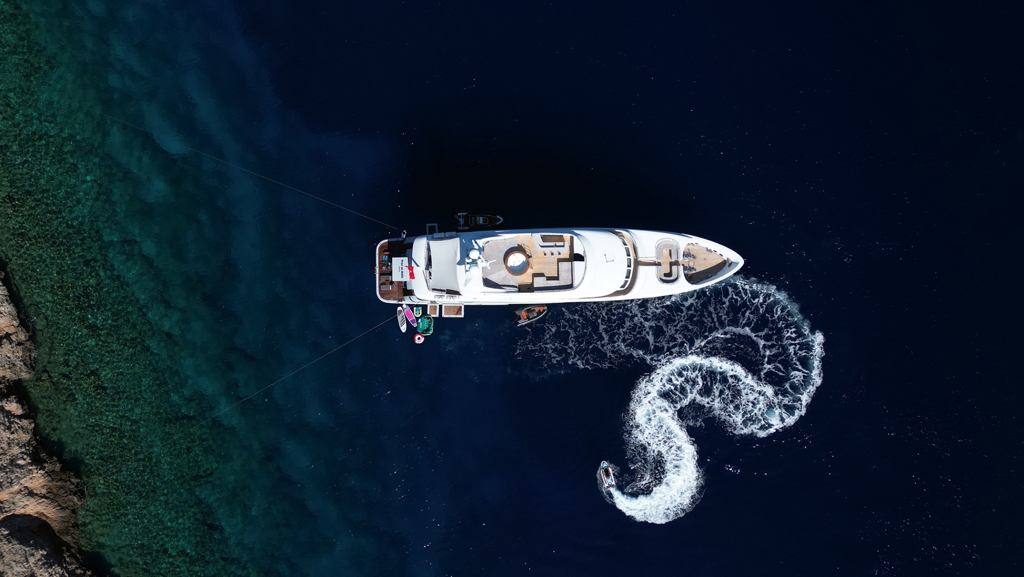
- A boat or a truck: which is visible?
boat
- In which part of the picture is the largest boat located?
center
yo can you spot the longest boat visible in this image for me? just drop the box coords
[371,224,744,317]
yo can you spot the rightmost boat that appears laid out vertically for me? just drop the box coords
[601,461,615,489]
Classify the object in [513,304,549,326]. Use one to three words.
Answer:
boat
